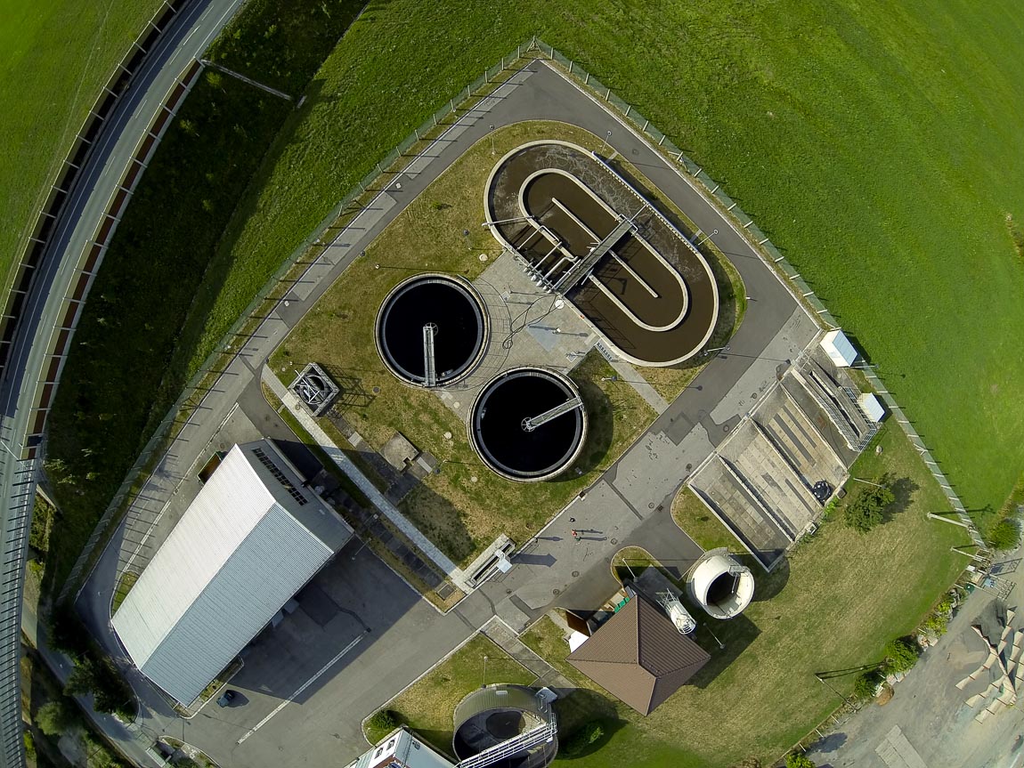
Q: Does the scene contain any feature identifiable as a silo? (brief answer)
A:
Yes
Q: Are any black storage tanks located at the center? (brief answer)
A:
Yes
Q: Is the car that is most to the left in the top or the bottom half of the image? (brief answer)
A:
bottom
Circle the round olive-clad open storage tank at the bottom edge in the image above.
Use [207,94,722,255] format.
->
[448,674,559,768]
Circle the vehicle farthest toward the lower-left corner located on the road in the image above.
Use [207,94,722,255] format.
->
[210,689,235,712]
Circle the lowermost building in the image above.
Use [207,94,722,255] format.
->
[361,718,453,768]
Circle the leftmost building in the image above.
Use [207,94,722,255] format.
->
[109,439,349,708]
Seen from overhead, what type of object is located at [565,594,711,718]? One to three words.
building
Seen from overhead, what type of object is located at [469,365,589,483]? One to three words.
storage tank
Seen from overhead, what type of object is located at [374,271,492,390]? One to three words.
storage tank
